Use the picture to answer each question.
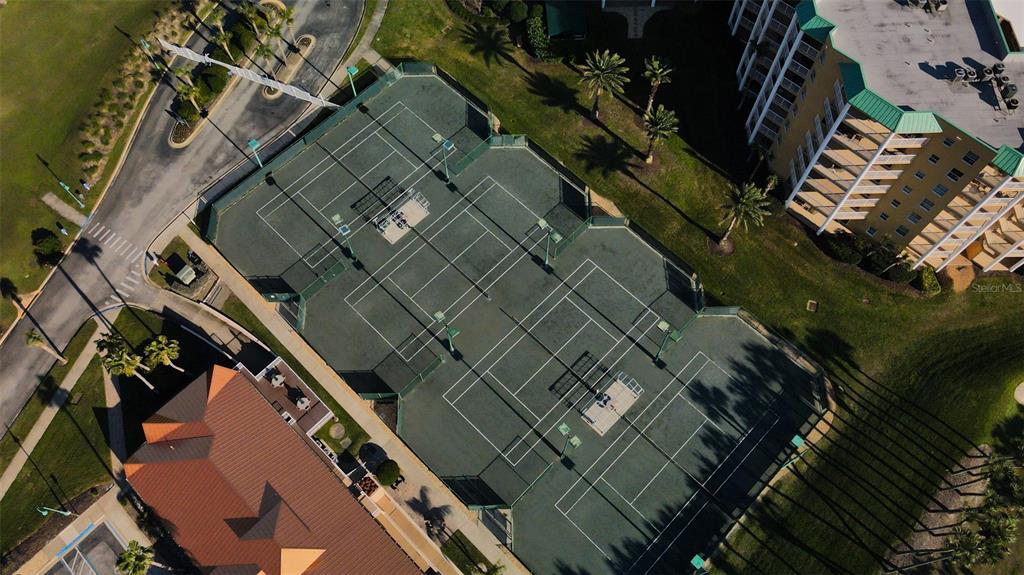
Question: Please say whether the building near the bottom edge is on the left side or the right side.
left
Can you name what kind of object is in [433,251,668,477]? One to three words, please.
tennis court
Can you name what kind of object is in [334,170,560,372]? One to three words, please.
tennis court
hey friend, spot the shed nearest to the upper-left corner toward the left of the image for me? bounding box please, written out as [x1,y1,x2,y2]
[176,266,201,289]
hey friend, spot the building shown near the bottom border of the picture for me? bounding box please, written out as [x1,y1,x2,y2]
[120,364,433,575]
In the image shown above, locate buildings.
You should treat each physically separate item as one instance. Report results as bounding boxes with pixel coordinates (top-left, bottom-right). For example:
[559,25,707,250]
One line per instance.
[176,266,201,289]
[725,0,1024,274]
[120,364,433,575]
